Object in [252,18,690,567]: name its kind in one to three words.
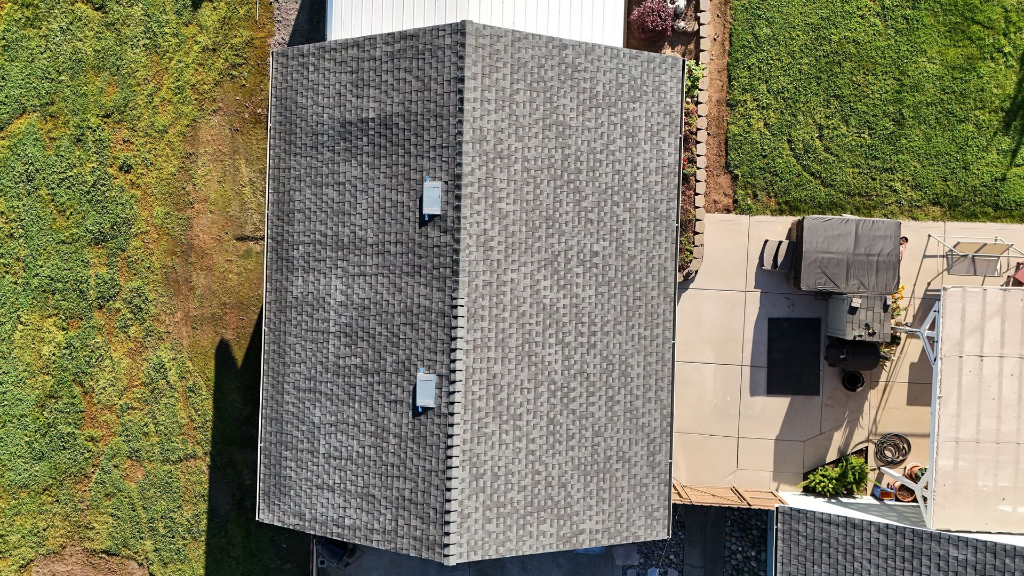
house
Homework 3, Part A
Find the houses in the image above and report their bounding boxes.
[252,18,690,567]
[764,494,1024,576]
